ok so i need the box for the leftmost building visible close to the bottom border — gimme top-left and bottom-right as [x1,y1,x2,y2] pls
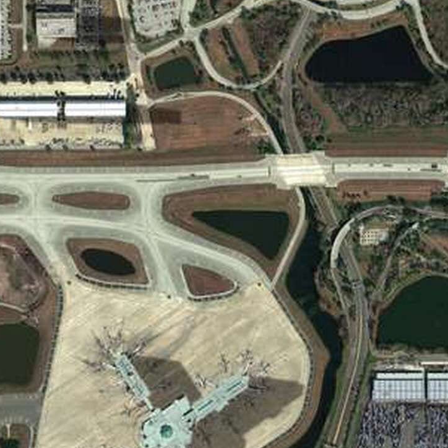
[103,341,259,448]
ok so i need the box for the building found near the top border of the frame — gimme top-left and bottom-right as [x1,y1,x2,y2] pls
[36,13,77,37]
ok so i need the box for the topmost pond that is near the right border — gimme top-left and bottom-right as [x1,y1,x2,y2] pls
[305,27,433,86]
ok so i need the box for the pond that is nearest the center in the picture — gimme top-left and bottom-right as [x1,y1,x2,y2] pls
[193,211,290,259]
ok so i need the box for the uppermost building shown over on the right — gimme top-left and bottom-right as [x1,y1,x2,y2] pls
[360,231,385,244]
